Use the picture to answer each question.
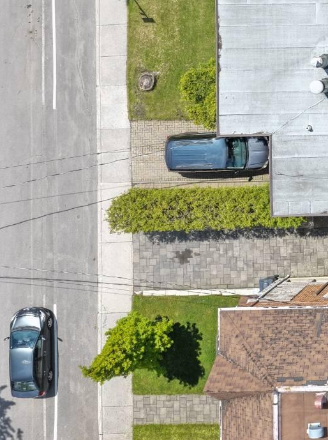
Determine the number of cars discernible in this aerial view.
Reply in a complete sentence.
I count 2 cars.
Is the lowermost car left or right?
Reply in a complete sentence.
You can find the lowermost car on the left side of the picture.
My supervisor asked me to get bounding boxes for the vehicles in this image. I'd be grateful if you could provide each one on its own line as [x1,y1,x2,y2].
[162,127,271,174]
[4,303,59,399]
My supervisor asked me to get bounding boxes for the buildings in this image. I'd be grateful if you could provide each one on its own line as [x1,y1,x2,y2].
[202,272,328,440]
[215,0,328,216]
